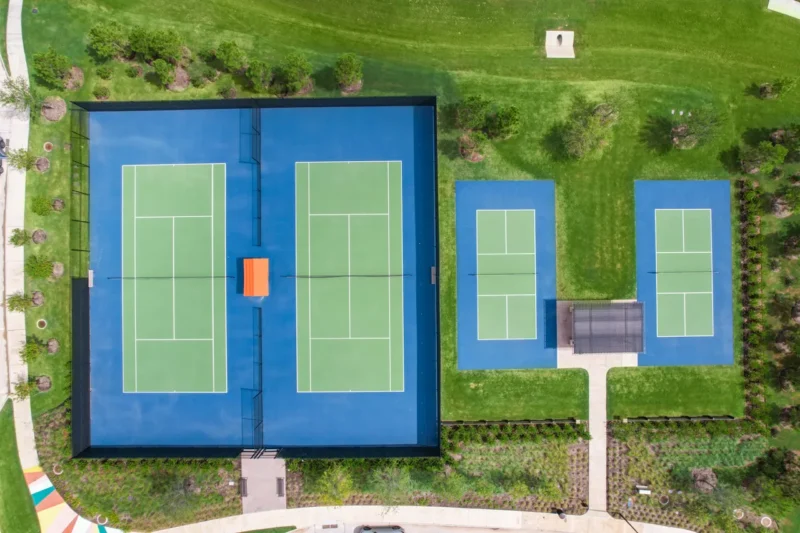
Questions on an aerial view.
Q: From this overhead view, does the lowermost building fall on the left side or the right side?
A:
right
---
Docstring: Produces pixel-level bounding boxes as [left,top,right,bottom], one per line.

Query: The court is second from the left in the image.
[260,106,438,449]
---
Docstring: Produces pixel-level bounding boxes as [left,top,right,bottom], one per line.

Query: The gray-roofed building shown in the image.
[569,302,645,355]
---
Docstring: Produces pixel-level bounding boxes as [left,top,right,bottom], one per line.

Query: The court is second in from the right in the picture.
[455,180,557,370]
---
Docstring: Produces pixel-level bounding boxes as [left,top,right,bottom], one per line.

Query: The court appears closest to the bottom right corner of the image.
[635,180,734,366]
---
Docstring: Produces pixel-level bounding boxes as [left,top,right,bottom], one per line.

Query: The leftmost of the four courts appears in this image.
[88,107,262,449]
